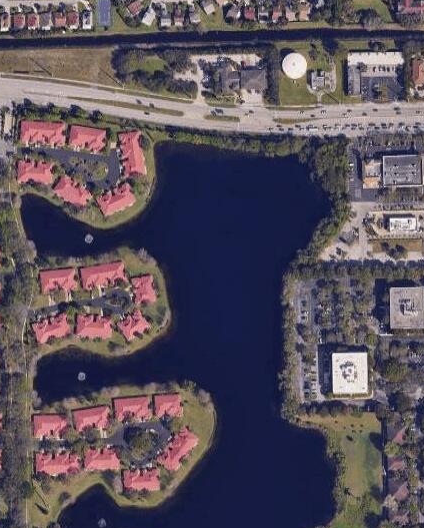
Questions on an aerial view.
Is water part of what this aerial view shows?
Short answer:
Yes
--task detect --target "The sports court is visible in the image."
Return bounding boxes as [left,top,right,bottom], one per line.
[94,0,112,29]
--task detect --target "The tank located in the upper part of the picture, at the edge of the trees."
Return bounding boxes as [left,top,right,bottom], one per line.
[282,54,307,83]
